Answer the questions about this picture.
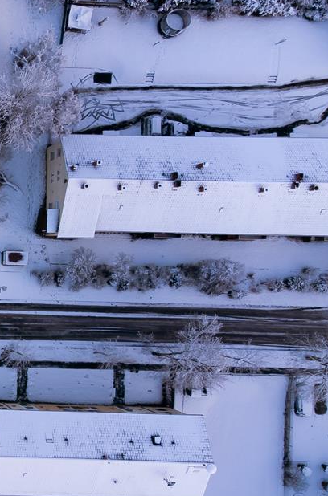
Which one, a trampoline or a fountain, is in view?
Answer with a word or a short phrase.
trampoline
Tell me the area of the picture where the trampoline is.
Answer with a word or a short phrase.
top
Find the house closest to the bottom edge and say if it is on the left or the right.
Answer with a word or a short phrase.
left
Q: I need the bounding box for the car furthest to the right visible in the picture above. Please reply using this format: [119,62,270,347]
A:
[312,388,328,420]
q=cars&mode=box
[294,386,310,417]
[312,388,328,420]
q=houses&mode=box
[46,135,328,252]
[0,403,217,496]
